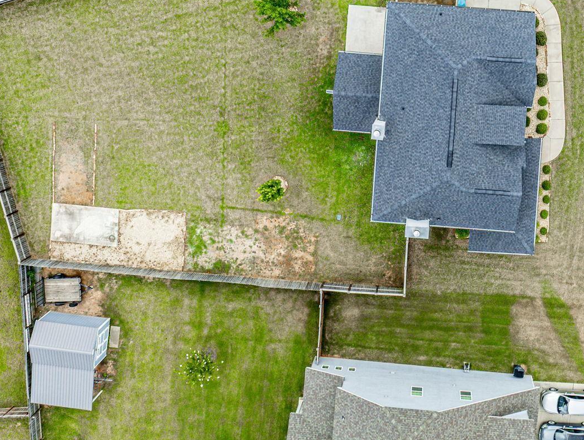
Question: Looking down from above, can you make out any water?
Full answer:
No, water can't be seen anywhere here.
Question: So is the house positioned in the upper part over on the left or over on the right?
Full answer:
The house positioned in the upper part sits on the right side.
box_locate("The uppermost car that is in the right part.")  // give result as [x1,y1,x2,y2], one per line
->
[540,388,584,421]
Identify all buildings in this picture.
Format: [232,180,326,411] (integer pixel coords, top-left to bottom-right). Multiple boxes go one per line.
[23,311,111,411]
[283,357,540,440]
[326,0,544,256]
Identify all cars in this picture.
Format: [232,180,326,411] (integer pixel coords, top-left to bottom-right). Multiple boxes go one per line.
[540,388,584,421]
[539,421,584,440]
